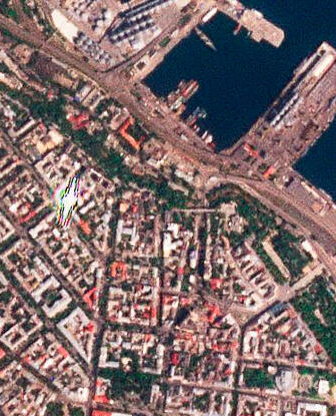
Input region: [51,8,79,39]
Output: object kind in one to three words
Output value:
building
